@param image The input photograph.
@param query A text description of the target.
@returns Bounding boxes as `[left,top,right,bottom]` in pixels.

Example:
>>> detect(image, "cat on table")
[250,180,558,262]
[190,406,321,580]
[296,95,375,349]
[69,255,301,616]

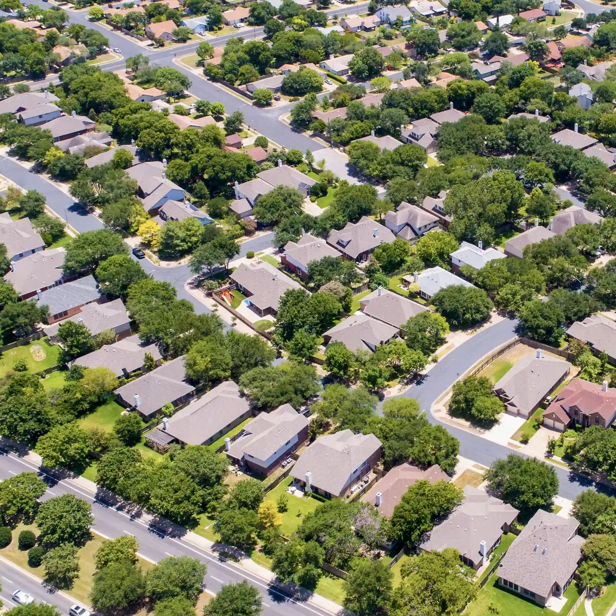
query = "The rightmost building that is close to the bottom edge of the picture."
[495,517,589,605]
